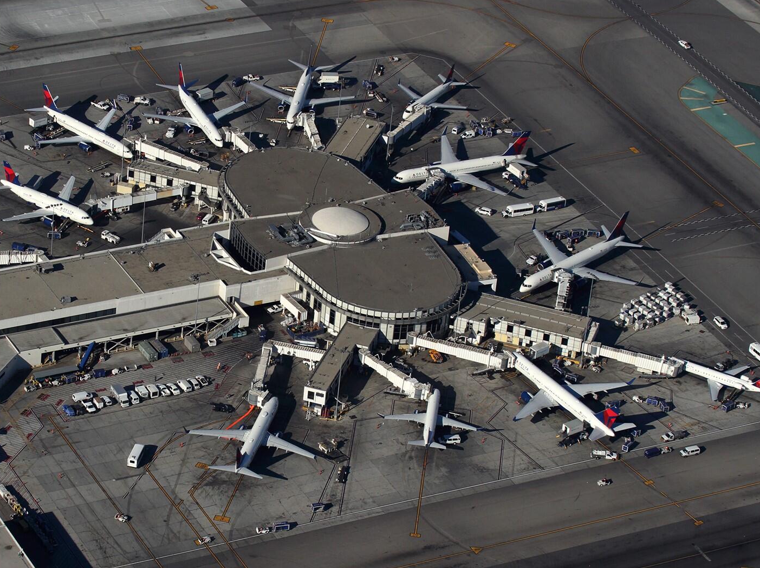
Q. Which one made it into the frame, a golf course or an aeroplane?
aeroplane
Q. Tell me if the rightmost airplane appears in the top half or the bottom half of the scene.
bottom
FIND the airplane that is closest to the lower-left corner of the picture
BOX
[189,398,321,475]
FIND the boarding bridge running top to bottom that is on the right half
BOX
[553,271,572,313]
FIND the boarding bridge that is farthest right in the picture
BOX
[589,344,683,379]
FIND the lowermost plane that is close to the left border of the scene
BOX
[0,162,95,230]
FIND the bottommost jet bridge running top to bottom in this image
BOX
[253,344,273,407]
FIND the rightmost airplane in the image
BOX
[659,355,760,398]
